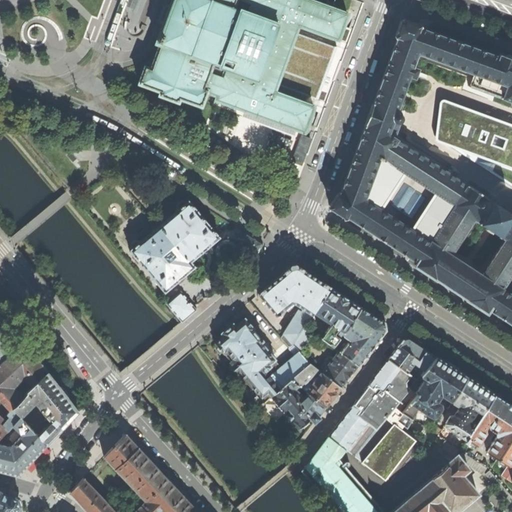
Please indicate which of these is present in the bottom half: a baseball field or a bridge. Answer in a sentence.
Looking in the bottom half, you will find a bridge.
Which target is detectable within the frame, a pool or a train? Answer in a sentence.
Of the two, only a train appears.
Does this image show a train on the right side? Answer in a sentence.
No, I see no train on the right side.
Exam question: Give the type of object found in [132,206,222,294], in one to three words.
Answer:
house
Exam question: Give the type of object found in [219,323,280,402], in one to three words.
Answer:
house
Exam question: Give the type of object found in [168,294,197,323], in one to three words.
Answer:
shed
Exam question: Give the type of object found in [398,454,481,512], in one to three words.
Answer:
building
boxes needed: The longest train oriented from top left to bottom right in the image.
[92,114,184,174]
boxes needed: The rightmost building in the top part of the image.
[438,100,512,174]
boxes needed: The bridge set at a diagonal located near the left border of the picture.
[8,192,71,246]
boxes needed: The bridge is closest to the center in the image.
[127,320,200,386]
